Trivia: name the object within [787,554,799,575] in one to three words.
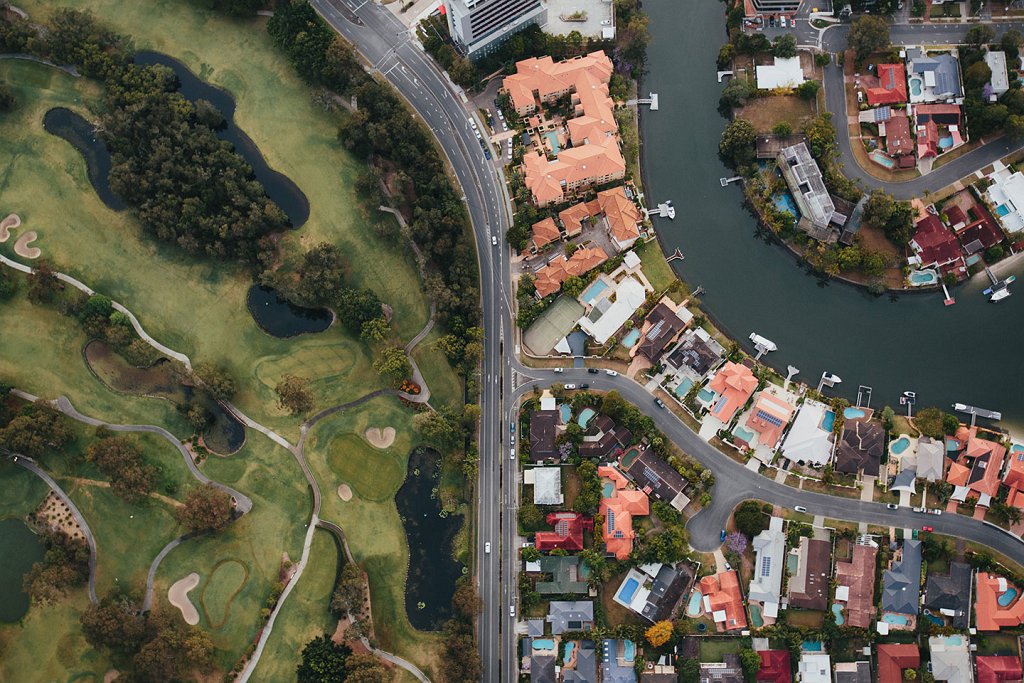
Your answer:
swimming pool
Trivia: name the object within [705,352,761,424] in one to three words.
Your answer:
house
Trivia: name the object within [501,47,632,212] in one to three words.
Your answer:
building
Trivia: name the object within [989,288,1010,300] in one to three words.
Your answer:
boat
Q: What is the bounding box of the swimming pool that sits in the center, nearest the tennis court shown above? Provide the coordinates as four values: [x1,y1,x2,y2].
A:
[582,279,608,302]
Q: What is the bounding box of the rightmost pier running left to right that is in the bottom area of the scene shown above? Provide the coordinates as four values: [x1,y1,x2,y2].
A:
[953,403,1002,427]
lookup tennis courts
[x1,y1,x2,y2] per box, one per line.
[523,293,586,355]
